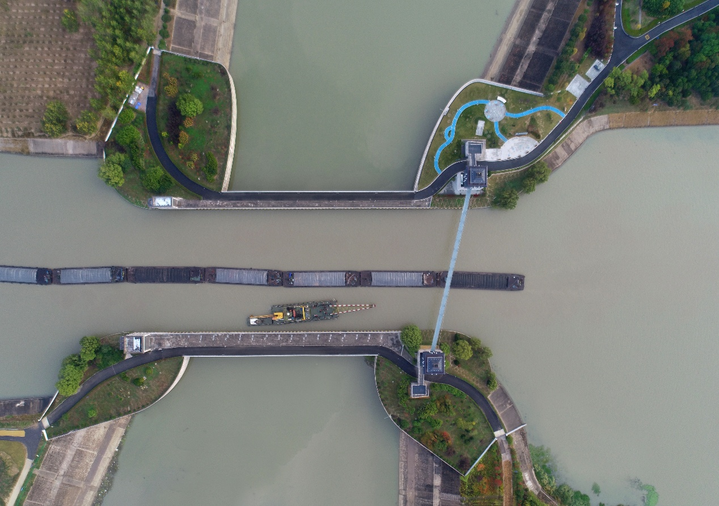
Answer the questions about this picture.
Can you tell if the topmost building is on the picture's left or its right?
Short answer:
right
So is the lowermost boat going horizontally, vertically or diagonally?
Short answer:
horizontally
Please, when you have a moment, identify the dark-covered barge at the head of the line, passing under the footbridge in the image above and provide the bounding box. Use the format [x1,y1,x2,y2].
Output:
[437,271,525,291]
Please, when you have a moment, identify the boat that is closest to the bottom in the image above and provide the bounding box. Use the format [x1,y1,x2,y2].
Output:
[247,299,376,327]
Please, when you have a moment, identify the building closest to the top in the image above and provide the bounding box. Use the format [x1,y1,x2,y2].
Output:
[460,140,486,166]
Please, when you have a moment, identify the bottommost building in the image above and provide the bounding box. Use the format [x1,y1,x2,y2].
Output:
[409,372,428,398]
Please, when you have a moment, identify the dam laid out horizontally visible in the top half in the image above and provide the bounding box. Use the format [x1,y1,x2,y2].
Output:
[150,191,432,208]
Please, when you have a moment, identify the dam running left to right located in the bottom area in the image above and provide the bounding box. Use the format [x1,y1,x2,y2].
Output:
[122,332,403,358]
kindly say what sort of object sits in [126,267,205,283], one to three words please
ship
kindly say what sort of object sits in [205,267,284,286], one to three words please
ship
